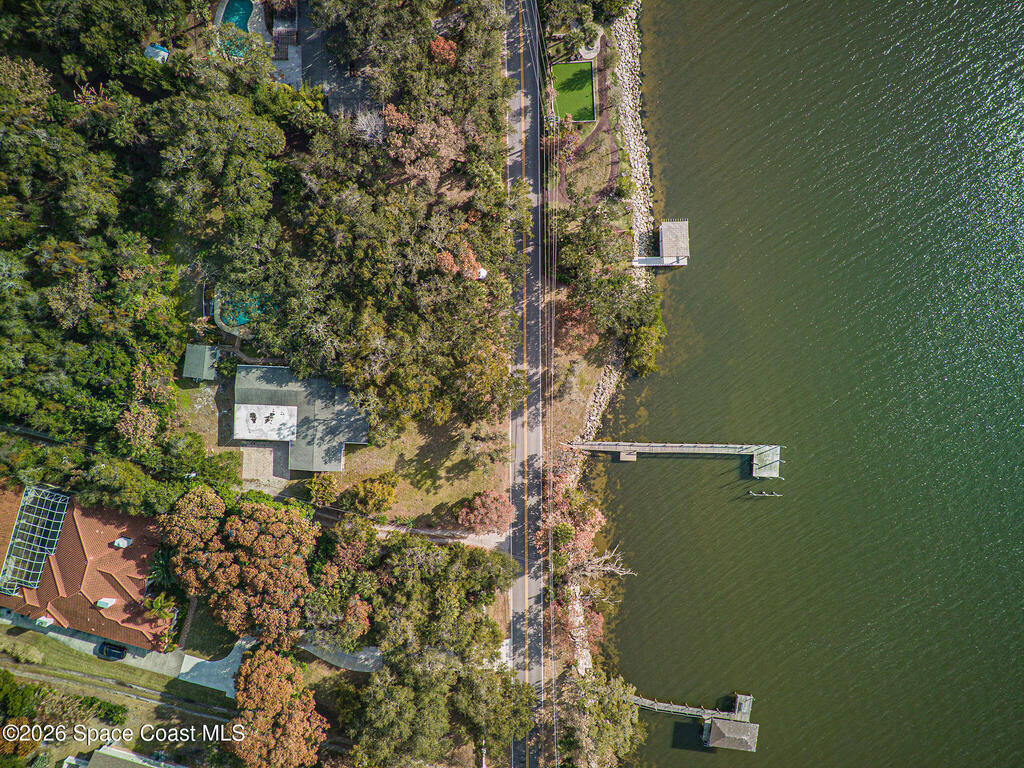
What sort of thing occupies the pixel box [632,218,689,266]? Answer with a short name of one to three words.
pier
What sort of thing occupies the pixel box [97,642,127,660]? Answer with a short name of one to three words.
car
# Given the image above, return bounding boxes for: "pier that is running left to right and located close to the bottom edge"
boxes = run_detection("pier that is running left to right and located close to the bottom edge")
[621,691,760,755]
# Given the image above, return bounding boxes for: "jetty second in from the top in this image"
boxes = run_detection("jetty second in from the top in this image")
[566,441,788,481]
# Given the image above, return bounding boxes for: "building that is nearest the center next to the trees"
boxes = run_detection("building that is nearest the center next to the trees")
[233,364,369,472]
